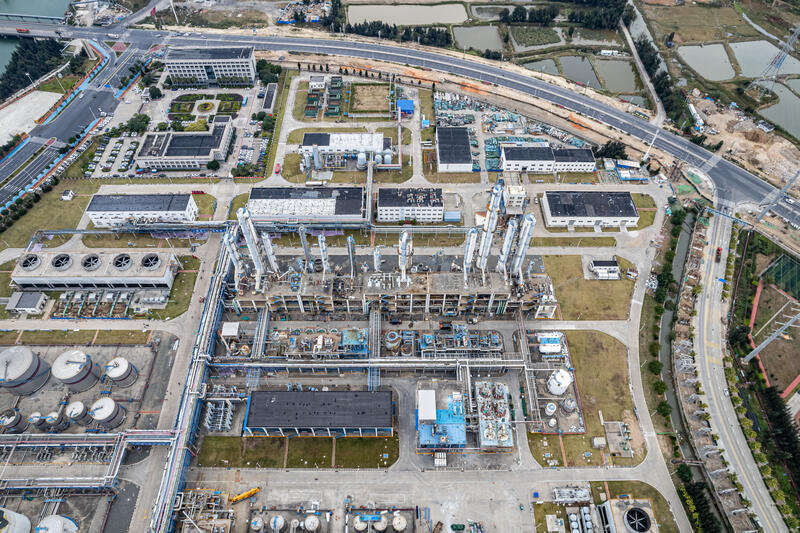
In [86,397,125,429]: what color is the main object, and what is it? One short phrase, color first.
white storage tank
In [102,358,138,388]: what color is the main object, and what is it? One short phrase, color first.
white storage tank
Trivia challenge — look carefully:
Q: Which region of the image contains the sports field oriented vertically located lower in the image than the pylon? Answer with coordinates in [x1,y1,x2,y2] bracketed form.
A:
[748,278,800,399]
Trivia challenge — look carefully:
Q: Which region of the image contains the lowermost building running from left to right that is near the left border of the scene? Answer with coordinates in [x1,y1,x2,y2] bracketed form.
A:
[5,292,52,314]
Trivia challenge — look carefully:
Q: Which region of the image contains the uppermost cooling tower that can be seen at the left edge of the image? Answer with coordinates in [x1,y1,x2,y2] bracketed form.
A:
[10,249,186,292]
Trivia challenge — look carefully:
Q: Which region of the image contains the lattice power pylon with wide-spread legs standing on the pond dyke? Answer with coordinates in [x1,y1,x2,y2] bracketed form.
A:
[745,23,800,99]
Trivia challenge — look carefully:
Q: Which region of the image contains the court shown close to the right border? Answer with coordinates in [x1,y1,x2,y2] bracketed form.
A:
[759,252,800,298]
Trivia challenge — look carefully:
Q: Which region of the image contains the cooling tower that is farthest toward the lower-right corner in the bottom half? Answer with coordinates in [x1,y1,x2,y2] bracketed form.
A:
[592,499,661,533]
